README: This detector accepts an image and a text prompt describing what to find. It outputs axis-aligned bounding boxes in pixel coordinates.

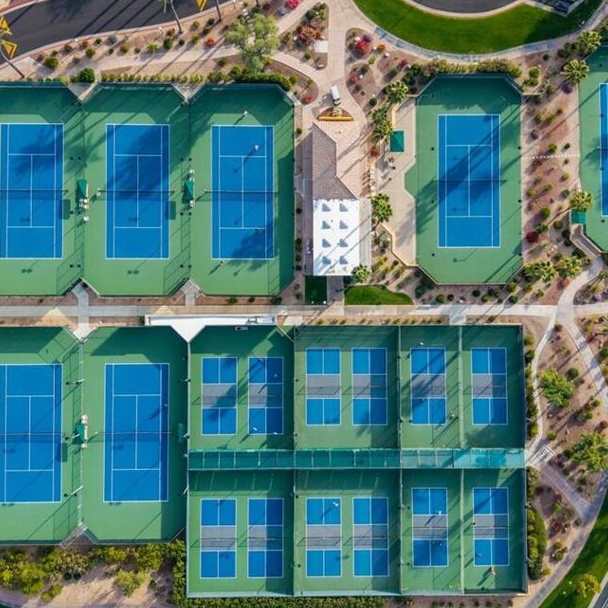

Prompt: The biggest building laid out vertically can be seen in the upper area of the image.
[312,123,370,276]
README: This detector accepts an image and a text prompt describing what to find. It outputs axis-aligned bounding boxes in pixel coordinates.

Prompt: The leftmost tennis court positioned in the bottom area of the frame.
[0,328,81,541]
